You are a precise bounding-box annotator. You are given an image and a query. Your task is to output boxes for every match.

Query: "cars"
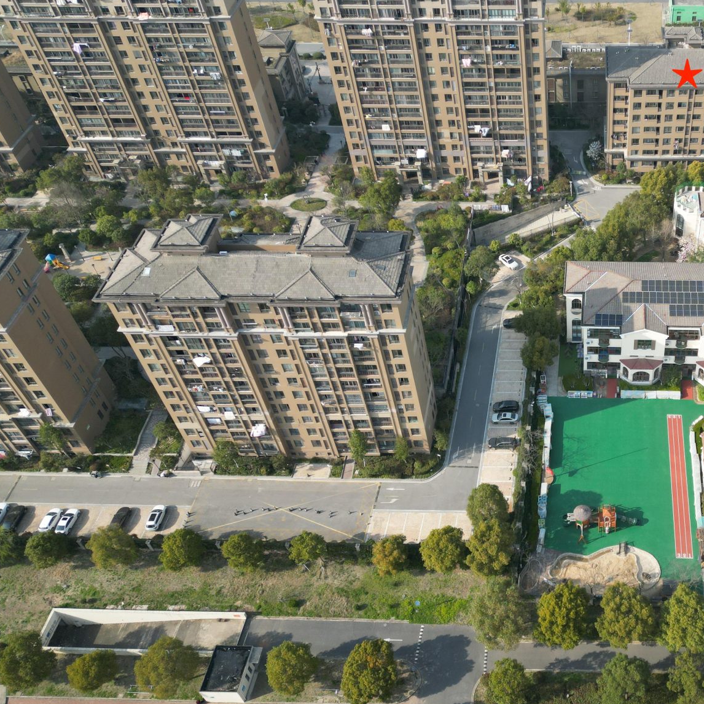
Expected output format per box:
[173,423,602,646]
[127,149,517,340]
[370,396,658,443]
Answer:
[112,505,135,530]
[490,400,520,412]
[36,506,63,532]
[501,317,527,330]
[143,504,166,535]
[56,507,80,532]
[490,411,520,425]
[2,502,27,529]
[490,437,521,452]
[0,500,12,518]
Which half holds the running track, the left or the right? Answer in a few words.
right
